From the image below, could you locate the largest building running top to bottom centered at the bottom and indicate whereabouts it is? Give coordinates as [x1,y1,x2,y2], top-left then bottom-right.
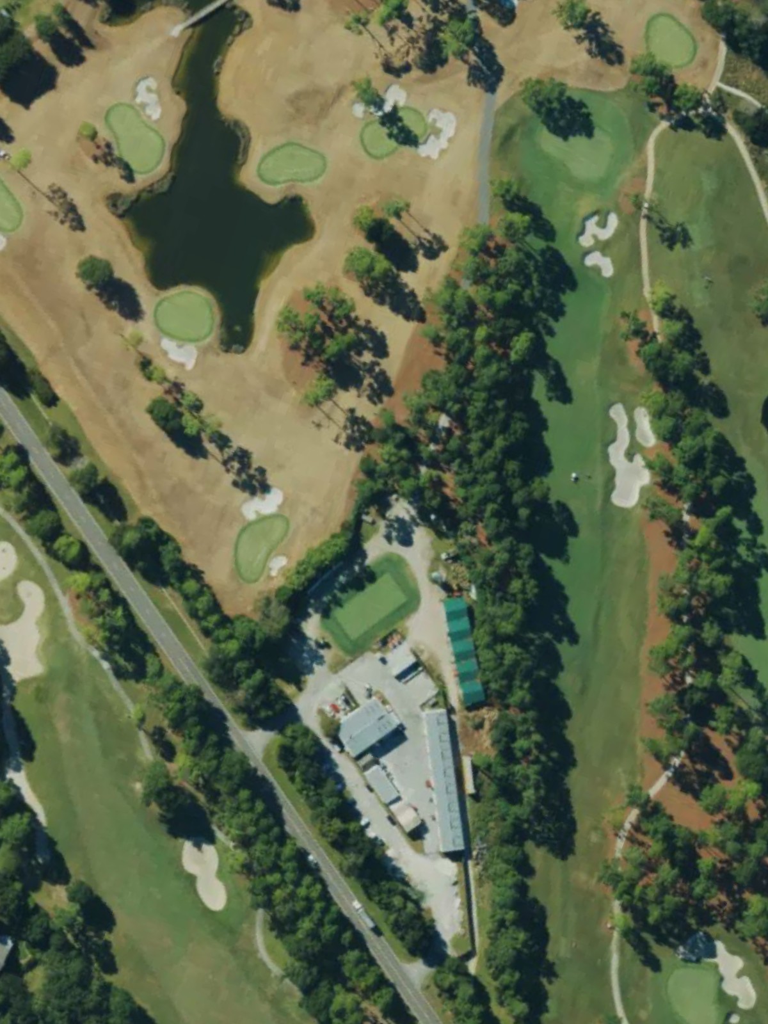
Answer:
[422,710,464,852]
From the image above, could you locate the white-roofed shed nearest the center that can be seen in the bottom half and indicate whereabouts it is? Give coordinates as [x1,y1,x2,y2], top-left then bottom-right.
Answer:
[386,645,417,677]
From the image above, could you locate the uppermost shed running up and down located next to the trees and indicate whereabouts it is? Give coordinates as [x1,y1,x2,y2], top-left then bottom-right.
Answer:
[442,598,485,705]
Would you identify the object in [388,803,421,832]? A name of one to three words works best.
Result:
shed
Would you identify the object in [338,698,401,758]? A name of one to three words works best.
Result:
building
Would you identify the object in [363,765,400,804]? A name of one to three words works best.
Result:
shed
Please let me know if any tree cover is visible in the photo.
Yes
